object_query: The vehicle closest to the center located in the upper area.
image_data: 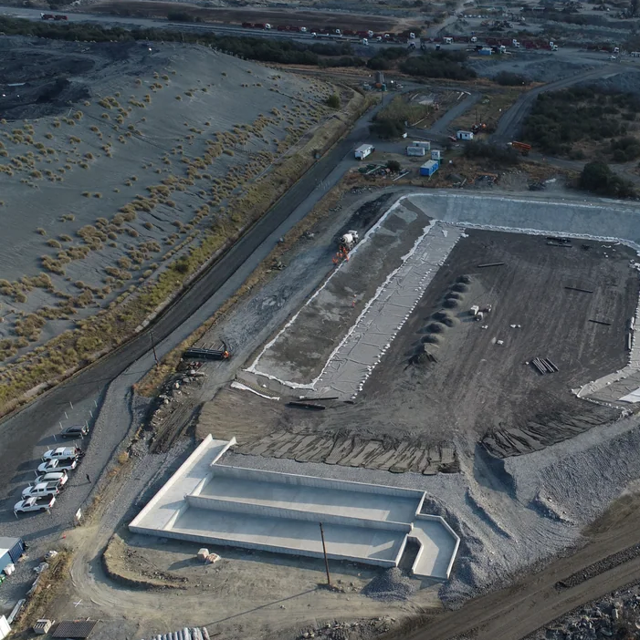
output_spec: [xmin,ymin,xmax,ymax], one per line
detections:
[337,229,357,250]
